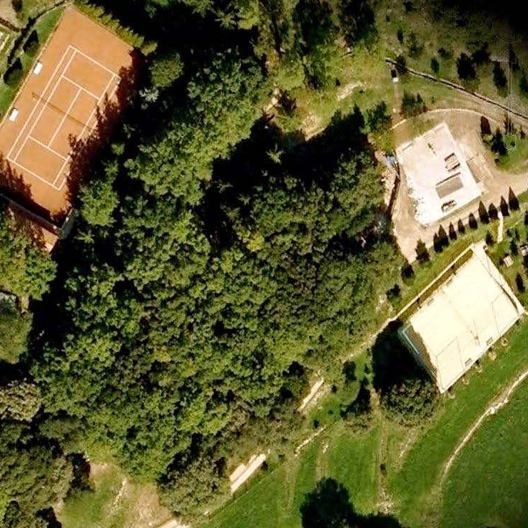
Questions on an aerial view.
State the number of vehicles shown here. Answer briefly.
0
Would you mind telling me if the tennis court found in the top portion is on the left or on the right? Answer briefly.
left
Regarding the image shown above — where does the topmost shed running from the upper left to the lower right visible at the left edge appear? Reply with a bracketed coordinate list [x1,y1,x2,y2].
[0,201,59,251]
